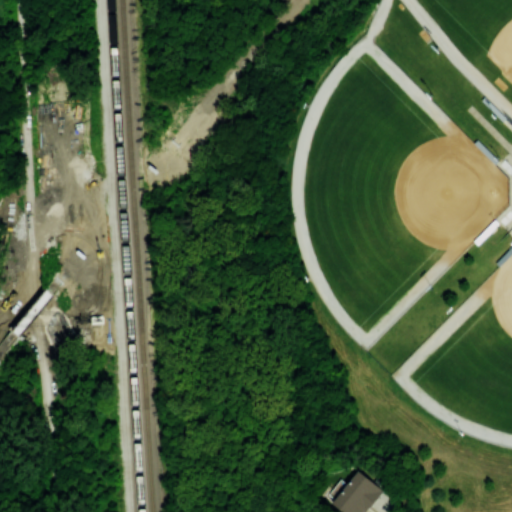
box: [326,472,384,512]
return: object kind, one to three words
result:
house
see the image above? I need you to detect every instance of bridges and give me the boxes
[0,284,60,362]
